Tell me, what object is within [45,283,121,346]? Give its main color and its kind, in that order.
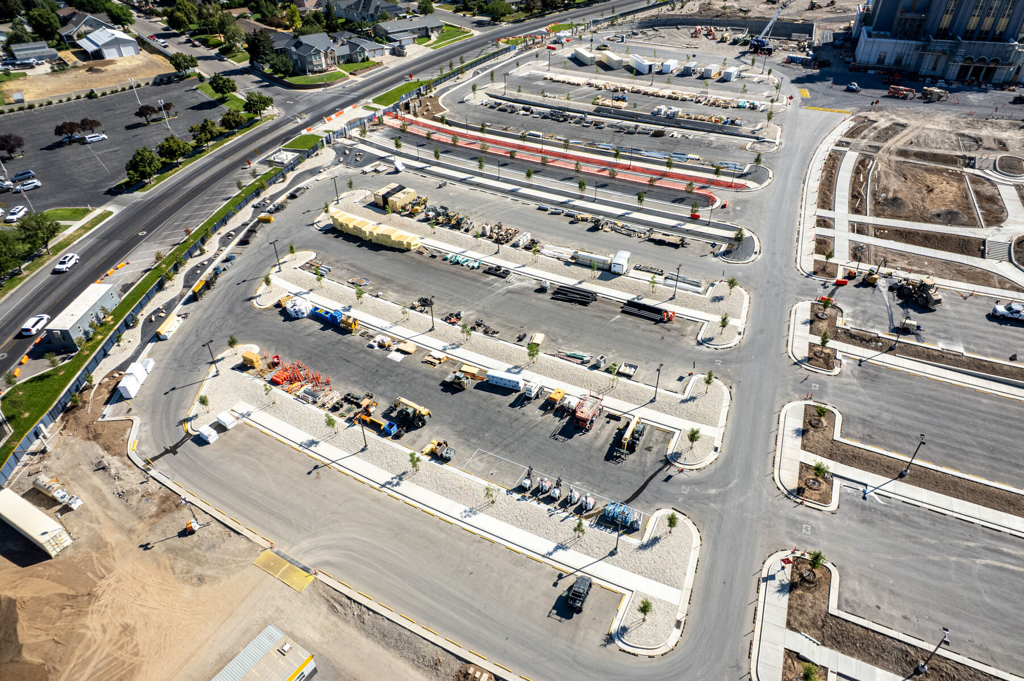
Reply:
white trailer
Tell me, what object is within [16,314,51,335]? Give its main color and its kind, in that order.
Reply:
white car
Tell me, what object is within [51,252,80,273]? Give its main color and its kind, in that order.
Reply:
white car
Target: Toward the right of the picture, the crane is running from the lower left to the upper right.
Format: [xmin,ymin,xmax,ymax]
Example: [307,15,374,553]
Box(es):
[735,0,792,56]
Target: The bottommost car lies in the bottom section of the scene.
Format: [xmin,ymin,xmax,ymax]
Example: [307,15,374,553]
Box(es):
[563,572,594,621]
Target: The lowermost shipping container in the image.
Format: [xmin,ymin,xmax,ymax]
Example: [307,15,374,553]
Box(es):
[0,483,72,552]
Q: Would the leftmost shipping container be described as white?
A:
Yes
